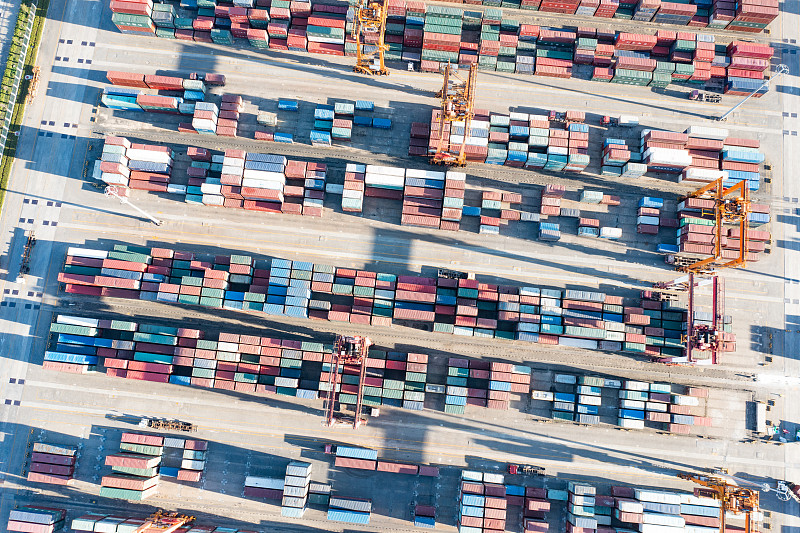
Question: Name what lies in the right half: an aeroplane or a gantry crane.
gantry crane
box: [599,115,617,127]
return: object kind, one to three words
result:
vehicle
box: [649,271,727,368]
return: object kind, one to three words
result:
container crane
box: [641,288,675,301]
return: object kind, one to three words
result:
vehicle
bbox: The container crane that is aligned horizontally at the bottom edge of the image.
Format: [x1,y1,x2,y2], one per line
[123,509,192,533]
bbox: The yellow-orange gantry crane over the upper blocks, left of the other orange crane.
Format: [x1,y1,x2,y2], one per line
[350,0,401,77]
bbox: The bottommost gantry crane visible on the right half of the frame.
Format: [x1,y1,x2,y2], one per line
[677,471,760,533]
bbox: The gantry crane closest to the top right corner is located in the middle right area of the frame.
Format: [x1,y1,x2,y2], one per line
[676,173,754,277]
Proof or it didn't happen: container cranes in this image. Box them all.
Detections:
[123,509,192,533]
[677,471,760,533]
[427,59,482,169]
[350,0,401,77]
[676,173,754,277]
[325,331,378,427]
[649,271,727,368]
